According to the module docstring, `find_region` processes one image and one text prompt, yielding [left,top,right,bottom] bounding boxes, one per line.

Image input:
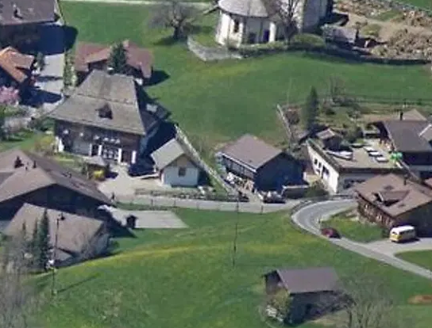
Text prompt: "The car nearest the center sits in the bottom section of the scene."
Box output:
[231,193,253,205]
